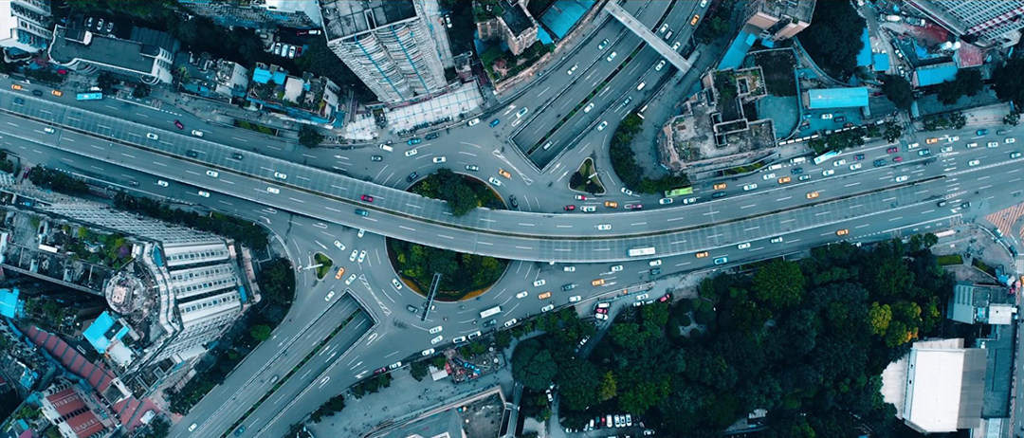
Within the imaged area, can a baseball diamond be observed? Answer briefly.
No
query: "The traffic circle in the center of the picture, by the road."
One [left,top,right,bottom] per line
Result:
[385,171,510,302]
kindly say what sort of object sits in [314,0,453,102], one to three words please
building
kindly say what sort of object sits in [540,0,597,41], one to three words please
shed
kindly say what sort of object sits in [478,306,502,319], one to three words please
vehicle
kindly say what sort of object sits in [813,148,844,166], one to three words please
vehicle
